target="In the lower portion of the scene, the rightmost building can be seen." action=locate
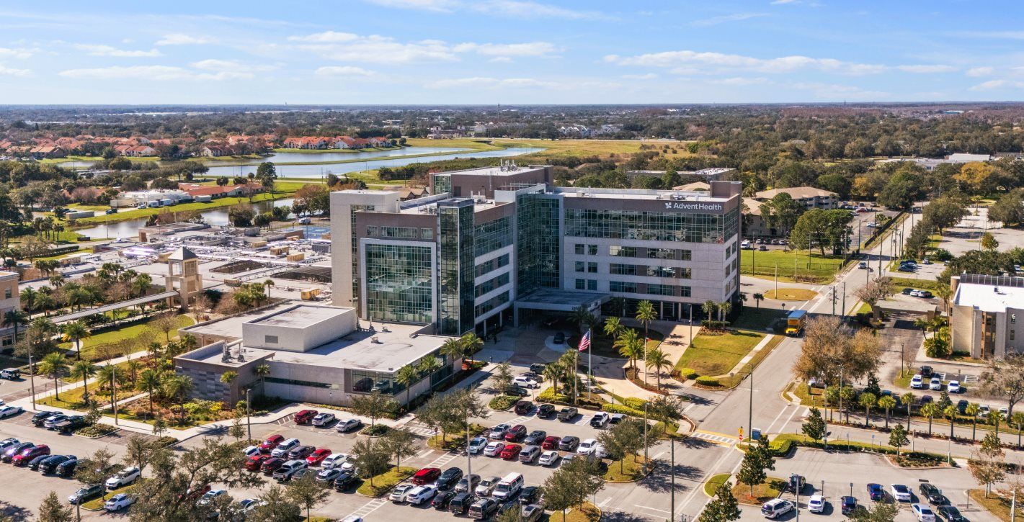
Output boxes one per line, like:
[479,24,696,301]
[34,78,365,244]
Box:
[952,272,1024,363]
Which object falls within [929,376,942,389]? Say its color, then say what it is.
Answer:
white vehicle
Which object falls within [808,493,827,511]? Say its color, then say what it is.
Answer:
white car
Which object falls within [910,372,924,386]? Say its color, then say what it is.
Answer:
white car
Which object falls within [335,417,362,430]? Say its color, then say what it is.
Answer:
gray vehicle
